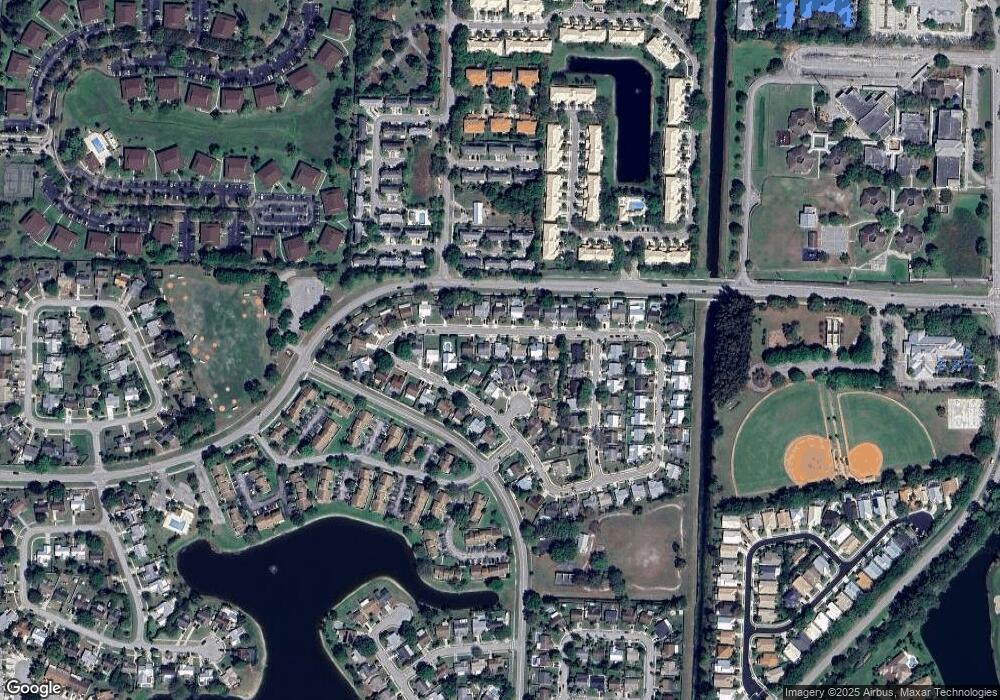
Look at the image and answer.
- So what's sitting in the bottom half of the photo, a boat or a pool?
pool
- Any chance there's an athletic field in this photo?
Yes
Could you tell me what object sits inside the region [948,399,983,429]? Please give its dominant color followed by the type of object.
white basketball court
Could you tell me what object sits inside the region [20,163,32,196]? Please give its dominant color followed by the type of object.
gray tennis court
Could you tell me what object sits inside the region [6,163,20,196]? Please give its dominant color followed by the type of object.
gray tennis court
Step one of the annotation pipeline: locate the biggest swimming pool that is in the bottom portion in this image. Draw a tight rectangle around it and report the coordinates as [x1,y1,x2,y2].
[163,510,195,535]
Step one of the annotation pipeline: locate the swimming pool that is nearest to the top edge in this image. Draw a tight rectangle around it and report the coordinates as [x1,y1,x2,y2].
[81,130,111,166]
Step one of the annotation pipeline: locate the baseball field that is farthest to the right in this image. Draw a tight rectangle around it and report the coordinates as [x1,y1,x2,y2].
[840,391,937,481]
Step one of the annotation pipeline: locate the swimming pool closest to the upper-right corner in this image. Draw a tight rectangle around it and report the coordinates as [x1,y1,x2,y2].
[628,197,646,217]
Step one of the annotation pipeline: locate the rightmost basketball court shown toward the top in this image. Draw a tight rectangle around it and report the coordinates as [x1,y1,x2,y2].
[821,226,847,252]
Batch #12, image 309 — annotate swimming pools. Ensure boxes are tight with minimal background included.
[628,197,646,217]
[443,341,452,352]
[408,209,431,226]
[81,130,111,166]
[906,653,918,668]
[163,510,195,535]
